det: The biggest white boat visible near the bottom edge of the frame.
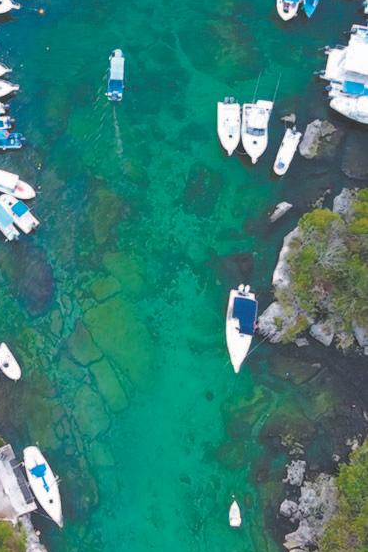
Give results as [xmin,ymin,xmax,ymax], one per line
[21,446,63,528]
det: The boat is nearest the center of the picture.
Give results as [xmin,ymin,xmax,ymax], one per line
[222,284,259,380]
